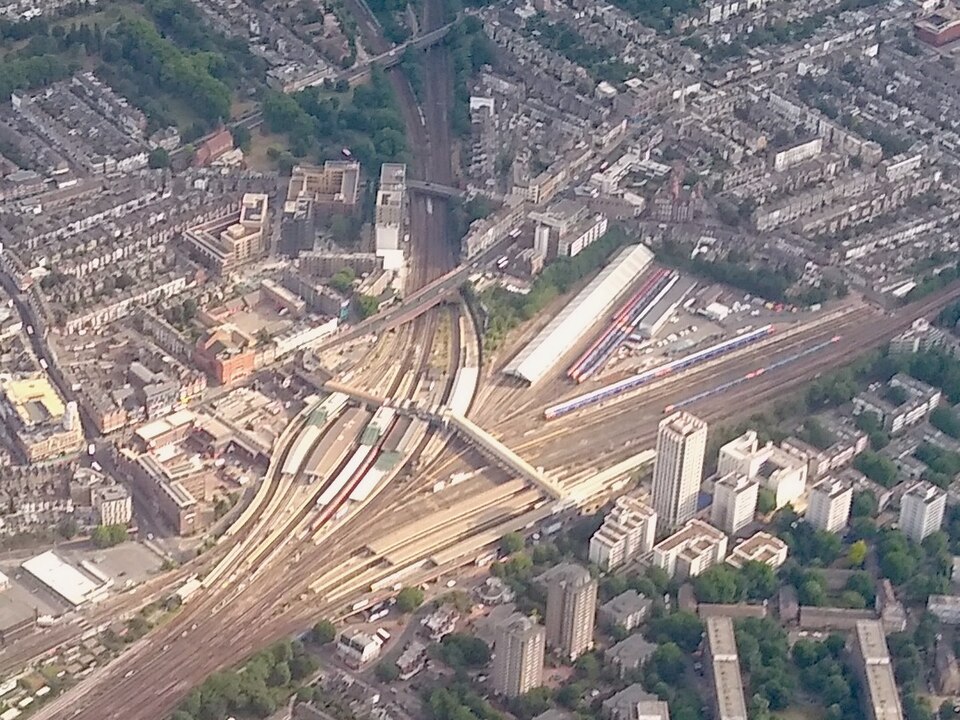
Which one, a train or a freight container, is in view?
train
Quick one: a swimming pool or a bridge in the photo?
bridge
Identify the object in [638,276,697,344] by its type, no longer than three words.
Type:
shed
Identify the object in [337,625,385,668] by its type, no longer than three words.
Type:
house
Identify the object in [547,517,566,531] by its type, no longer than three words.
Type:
vehicle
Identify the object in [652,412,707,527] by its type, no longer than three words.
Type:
building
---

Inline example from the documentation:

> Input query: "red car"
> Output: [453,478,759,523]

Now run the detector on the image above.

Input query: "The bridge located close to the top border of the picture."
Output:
[302,7,486,90]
